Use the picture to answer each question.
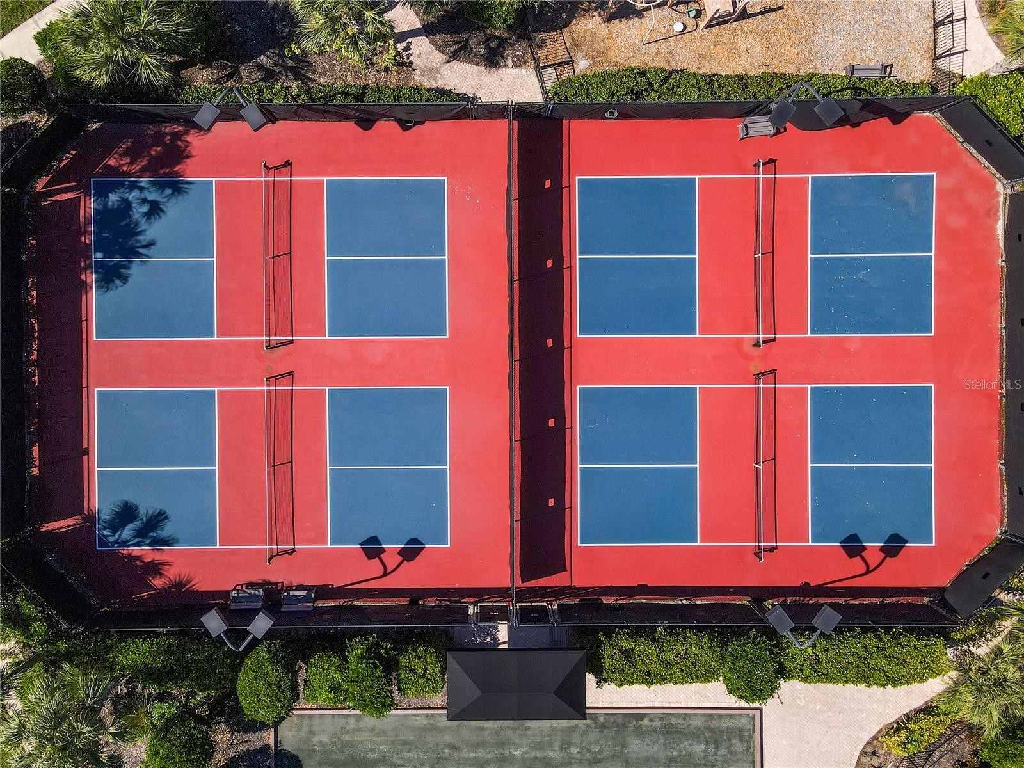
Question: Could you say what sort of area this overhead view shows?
sports ground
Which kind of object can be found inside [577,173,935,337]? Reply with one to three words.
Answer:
sports court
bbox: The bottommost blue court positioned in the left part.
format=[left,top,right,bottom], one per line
[94,387,449,548]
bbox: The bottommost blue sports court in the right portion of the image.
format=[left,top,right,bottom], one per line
[578,384,934,547]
